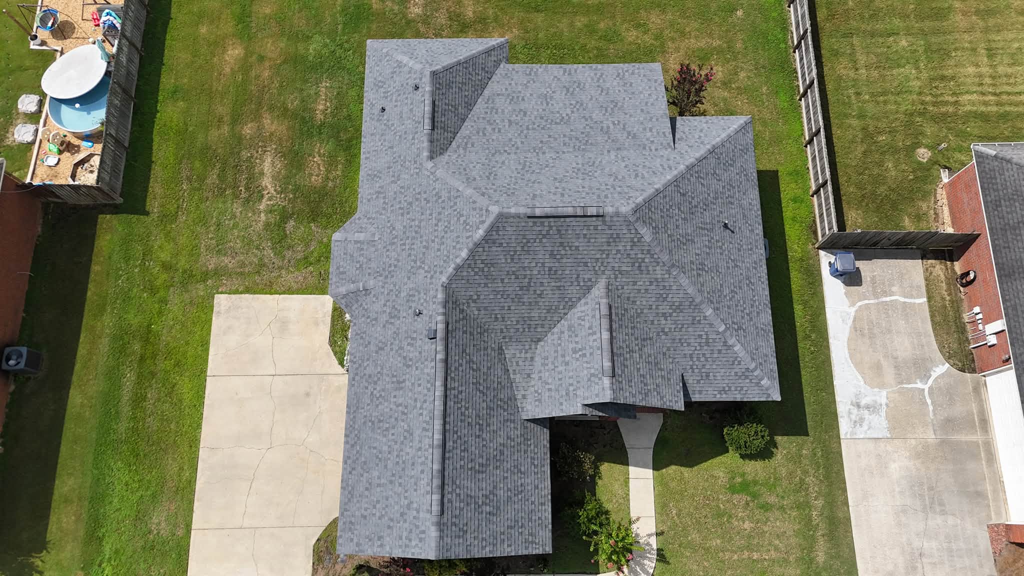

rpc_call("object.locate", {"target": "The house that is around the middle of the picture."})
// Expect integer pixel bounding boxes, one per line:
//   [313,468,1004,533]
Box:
[328,38,780,562]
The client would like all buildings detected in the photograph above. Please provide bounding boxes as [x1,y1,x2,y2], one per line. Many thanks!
[939,141,1024,547]
[0,159,41,439]
[328,38,780,562]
